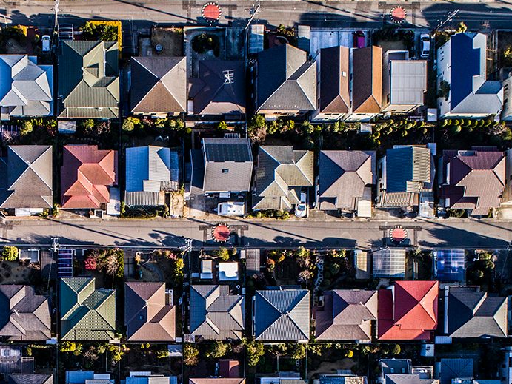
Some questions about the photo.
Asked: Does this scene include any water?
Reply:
No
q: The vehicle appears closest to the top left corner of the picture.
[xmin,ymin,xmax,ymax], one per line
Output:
[40,29,53,55]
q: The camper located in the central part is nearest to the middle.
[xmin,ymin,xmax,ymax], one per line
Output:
[216,199,249,215]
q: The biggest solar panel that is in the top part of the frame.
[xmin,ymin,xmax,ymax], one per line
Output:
[207,141,249,159]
